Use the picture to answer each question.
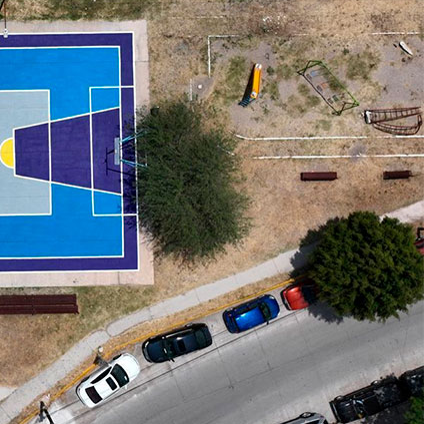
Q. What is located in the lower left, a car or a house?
car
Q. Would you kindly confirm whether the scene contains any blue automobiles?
Yes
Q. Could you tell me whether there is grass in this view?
Yes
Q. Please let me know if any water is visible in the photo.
No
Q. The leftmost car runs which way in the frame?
on a diagonal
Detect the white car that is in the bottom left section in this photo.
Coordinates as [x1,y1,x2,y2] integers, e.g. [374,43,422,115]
[75,353,142,411]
